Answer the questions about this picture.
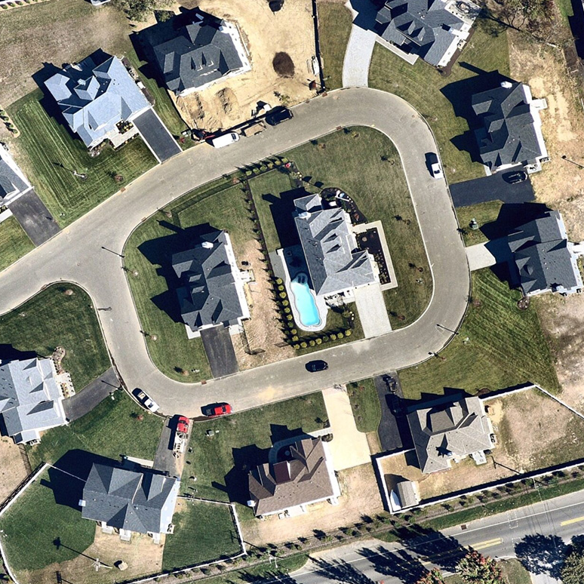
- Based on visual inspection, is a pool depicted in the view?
Yes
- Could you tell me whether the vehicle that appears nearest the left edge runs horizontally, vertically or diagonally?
diagonally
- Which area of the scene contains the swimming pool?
center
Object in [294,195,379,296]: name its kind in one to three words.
house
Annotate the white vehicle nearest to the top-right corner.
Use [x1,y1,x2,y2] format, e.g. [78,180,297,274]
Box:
[428,153,442,177]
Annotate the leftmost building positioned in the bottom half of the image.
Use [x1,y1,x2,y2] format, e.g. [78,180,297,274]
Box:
[0,349,68,445]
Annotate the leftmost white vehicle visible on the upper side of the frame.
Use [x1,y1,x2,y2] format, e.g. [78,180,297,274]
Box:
[212,132,237,146]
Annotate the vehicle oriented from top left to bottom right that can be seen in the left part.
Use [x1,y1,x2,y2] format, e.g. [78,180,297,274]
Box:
[137,388,157,409]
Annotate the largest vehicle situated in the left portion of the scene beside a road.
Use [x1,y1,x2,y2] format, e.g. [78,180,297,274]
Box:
[172,418,189,454]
